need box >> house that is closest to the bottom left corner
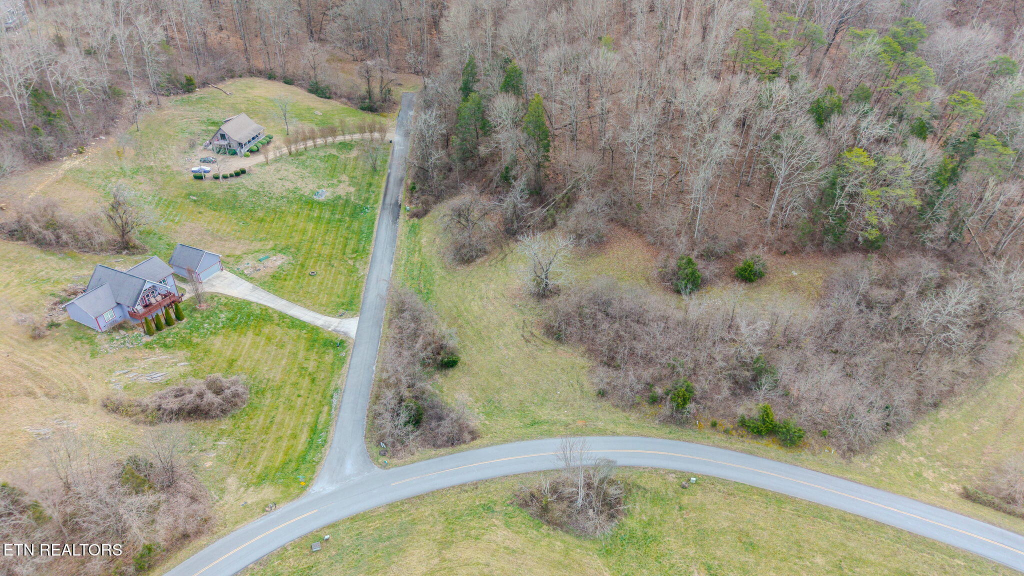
[62,256,187,332]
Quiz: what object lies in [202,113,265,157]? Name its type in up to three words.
house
